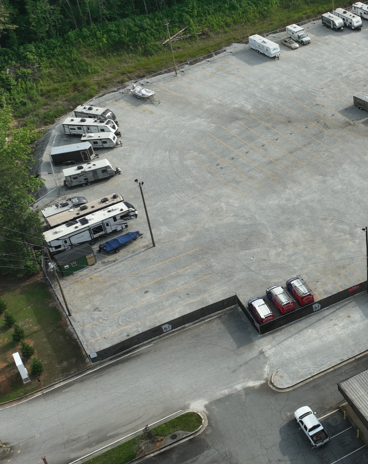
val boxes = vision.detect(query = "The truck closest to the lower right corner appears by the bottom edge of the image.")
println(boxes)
[295,406,331,452]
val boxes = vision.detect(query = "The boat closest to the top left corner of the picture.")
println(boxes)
[132,83,158,96]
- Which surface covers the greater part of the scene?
paved ground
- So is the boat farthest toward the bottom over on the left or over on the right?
left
